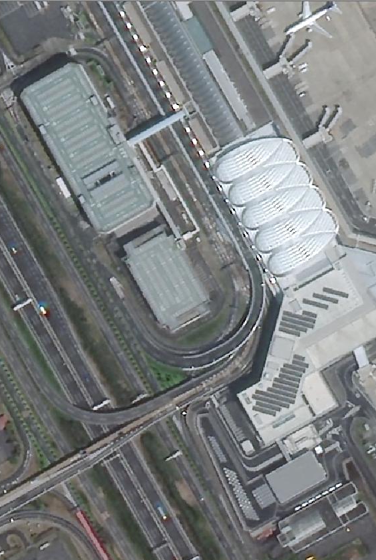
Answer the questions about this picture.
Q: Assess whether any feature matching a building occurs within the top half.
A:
Yes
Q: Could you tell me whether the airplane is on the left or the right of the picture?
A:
right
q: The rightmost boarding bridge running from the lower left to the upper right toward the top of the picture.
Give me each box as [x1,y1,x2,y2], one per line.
[303,107,343,148]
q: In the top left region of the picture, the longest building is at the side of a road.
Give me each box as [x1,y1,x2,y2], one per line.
[22,63,159,236]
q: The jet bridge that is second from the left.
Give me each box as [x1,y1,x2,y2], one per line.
[264,34,312,79]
